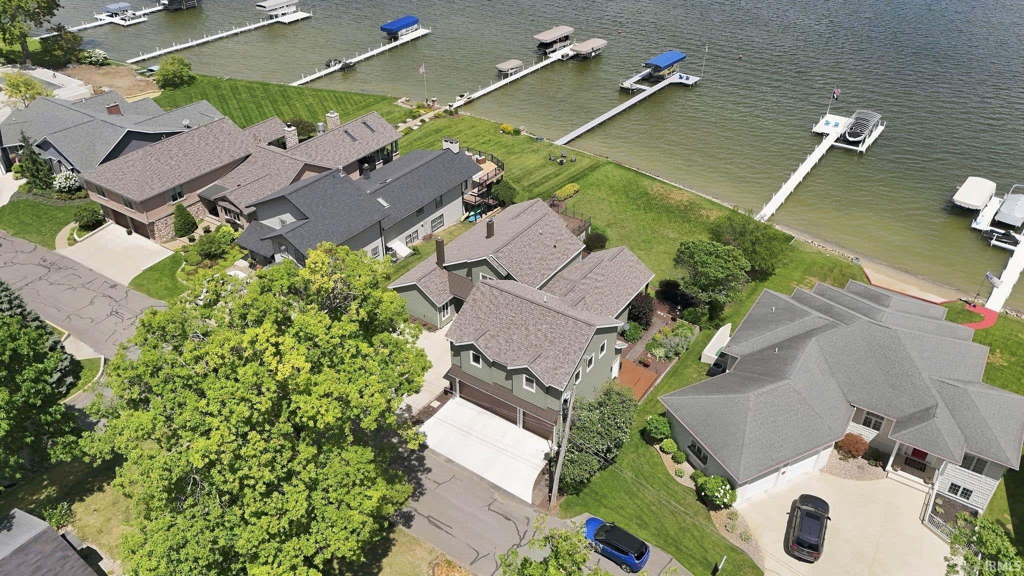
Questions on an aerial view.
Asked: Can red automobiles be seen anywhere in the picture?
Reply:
No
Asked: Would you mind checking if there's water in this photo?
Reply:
Yes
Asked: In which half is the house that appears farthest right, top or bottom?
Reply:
bottom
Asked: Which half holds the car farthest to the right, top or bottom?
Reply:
bottom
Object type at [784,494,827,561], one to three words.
car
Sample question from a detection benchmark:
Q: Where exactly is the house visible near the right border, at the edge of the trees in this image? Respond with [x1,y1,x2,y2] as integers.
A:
[657,279,1024,505]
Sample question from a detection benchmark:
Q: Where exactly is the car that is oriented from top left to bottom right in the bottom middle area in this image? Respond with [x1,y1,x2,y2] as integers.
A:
[582,521,656,576]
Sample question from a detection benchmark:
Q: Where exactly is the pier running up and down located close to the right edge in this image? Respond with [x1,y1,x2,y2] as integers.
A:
[969,192,1024,314]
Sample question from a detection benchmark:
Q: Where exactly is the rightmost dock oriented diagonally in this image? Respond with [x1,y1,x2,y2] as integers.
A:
[755,110,887,222]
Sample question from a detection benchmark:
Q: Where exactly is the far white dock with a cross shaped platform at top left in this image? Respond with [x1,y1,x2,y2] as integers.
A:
[79,7,162,28]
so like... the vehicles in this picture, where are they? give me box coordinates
[784,494,827,561]
[582,521,656,576]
